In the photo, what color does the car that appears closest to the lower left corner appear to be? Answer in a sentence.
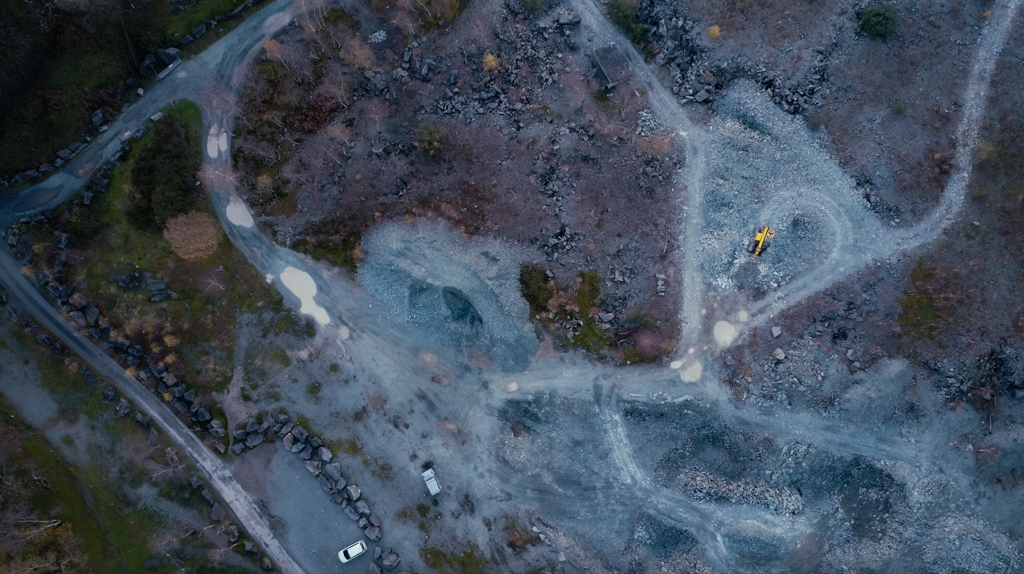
From above, the car that appears closest to the lower left corner appears white.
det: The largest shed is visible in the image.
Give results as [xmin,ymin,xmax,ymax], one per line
[591,46,633,88]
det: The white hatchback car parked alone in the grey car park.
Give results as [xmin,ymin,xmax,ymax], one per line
[338,540,368,563]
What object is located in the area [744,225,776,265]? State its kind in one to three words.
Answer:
work vehicle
